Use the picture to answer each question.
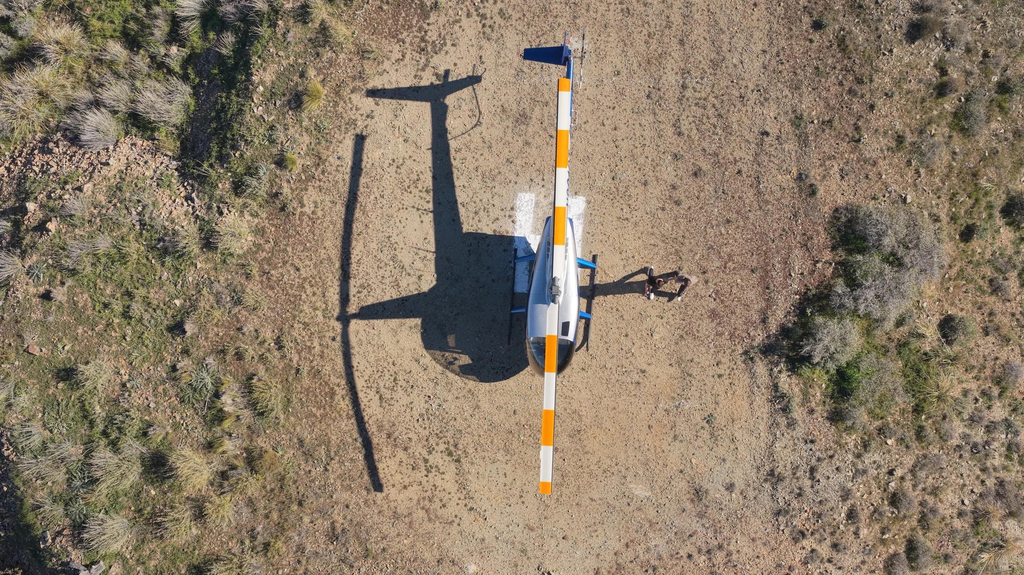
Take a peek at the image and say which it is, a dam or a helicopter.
helicopter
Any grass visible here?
Yes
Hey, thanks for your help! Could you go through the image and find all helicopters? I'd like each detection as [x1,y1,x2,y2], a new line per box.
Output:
[507,24,597,495]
